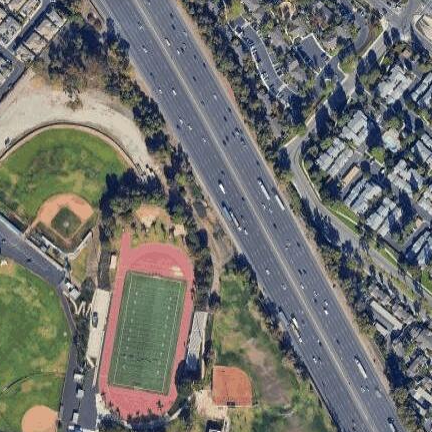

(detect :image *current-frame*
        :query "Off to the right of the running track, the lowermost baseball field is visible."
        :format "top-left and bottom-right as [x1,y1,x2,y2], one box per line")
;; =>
[212,366,252,406]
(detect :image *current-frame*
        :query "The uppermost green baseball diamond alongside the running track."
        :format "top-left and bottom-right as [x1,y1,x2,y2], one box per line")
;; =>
[0,125,134,254]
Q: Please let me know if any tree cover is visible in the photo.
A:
Yes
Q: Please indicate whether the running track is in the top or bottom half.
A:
bottom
